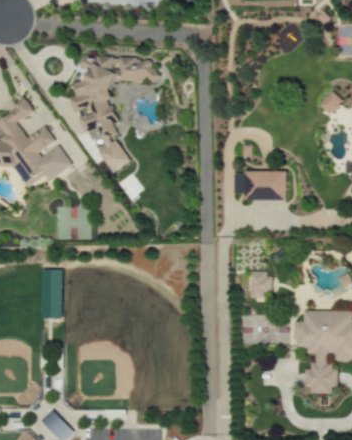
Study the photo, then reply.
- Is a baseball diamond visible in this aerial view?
Yes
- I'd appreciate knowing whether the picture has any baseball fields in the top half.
No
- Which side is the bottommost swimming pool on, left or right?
right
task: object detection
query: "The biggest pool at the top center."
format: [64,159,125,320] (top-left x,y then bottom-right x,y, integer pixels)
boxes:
[138,98,159,125]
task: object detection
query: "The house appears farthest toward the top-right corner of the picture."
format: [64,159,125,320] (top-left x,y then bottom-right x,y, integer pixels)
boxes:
[235,172,288,200]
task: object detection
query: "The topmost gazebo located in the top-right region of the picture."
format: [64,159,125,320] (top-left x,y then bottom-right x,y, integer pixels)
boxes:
[322,92,342,113]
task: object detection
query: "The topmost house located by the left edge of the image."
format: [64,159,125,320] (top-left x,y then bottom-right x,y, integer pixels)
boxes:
[0,95,74,186]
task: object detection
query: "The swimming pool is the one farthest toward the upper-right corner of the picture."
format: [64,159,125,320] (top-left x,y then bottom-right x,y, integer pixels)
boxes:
[331,128,348,160]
